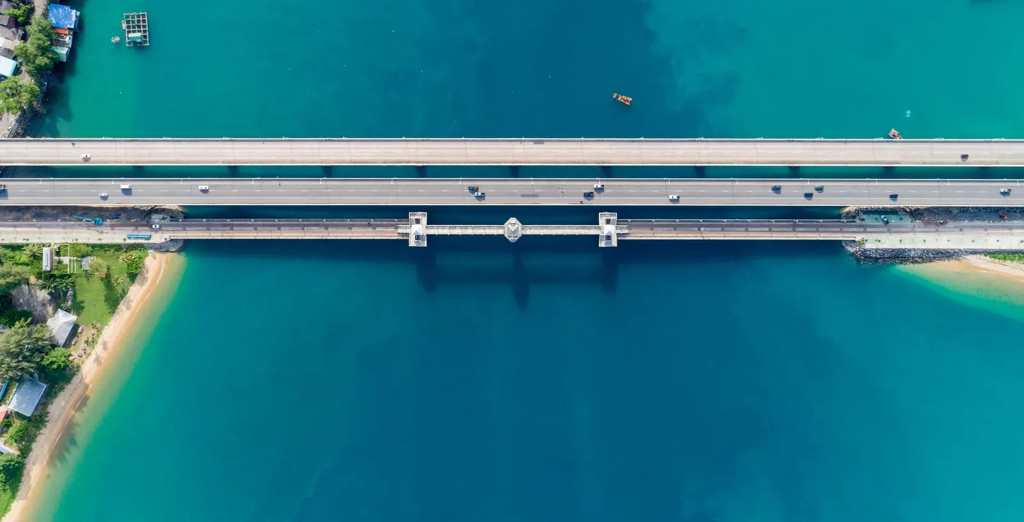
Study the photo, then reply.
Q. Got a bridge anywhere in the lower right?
No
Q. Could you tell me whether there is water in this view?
Yes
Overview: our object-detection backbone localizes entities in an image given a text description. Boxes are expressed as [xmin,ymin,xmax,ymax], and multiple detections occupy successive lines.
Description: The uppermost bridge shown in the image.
[0,137,1024,167]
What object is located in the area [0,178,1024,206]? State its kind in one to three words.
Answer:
bridge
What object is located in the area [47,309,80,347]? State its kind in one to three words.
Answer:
building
